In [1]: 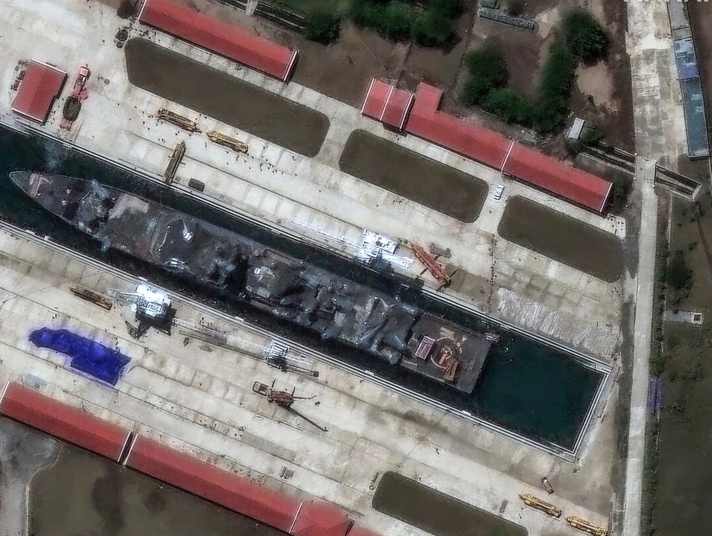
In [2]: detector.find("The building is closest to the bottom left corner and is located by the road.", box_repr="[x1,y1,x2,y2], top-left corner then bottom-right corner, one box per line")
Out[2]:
[0,381,131,461]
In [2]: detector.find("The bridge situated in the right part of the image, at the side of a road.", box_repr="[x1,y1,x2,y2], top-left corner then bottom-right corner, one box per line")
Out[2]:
[634,156,658,186]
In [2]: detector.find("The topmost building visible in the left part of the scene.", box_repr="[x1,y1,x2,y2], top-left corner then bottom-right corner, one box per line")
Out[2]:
[139,0,297,81]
